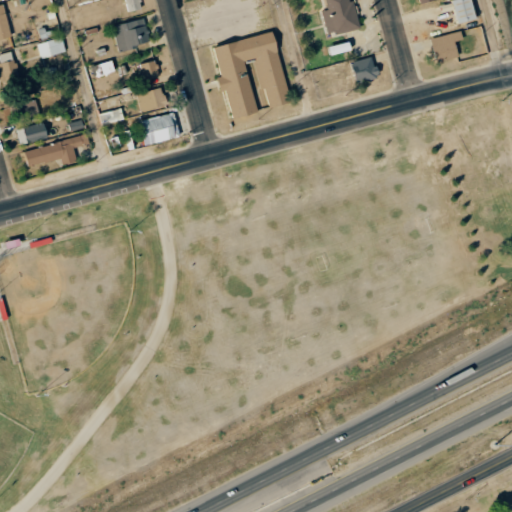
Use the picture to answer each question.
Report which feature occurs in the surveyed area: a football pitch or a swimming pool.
football pitch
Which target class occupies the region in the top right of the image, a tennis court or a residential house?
residential house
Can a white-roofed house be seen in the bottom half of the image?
No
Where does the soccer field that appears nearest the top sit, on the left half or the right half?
right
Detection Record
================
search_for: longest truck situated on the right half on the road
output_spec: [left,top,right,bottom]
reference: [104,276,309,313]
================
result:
[434,368,474,391]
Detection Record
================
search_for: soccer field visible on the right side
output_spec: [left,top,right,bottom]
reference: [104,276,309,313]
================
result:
[325,196,437,284]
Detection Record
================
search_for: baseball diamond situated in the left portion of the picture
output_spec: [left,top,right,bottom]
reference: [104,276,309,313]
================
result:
[0,224,134,394]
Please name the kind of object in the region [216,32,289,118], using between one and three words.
building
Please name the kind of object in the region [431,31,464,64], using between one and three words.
house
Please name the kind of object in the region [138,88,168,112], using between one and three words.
house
